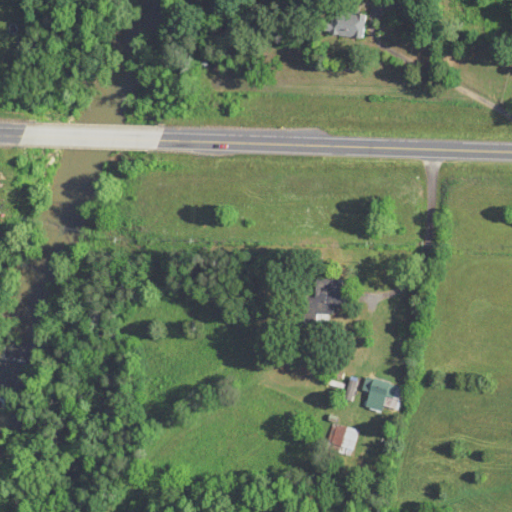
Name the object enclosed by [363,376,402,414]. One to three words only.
barn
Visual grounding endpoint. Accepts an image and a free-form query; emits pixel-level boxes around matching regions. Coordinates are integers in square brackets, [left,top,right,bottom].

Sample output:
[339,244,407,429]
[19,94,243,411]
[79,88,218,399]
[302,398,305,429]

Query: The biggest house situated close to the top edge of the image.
[326,14,368,40]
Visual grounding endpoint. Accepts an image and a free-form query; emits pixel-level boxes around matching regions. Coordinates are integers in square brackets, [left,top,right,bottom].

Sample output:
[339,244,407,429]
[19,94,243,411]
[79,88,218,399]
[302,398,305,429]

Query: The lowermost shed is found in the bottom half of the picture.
[328,425,358,456]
